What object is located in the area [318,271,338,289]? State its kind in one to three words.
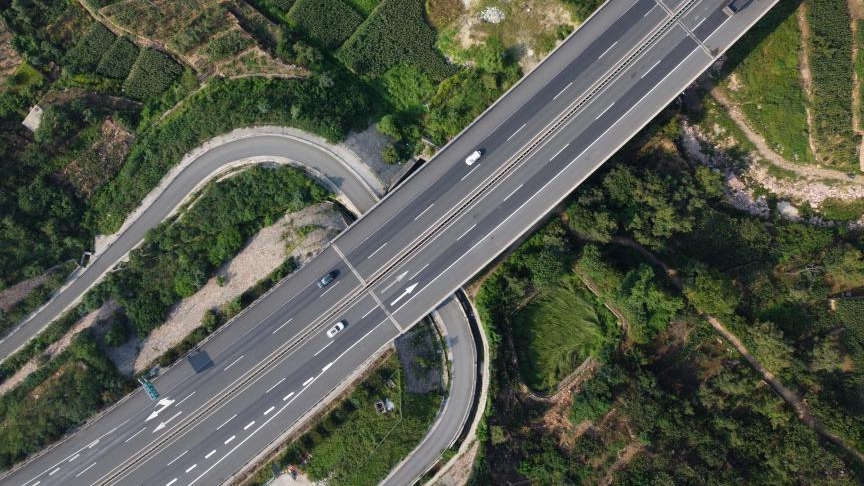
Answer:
car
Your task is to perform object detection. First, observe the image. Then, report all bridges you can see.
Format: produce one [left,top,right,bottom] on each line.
[327,0,777,335]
